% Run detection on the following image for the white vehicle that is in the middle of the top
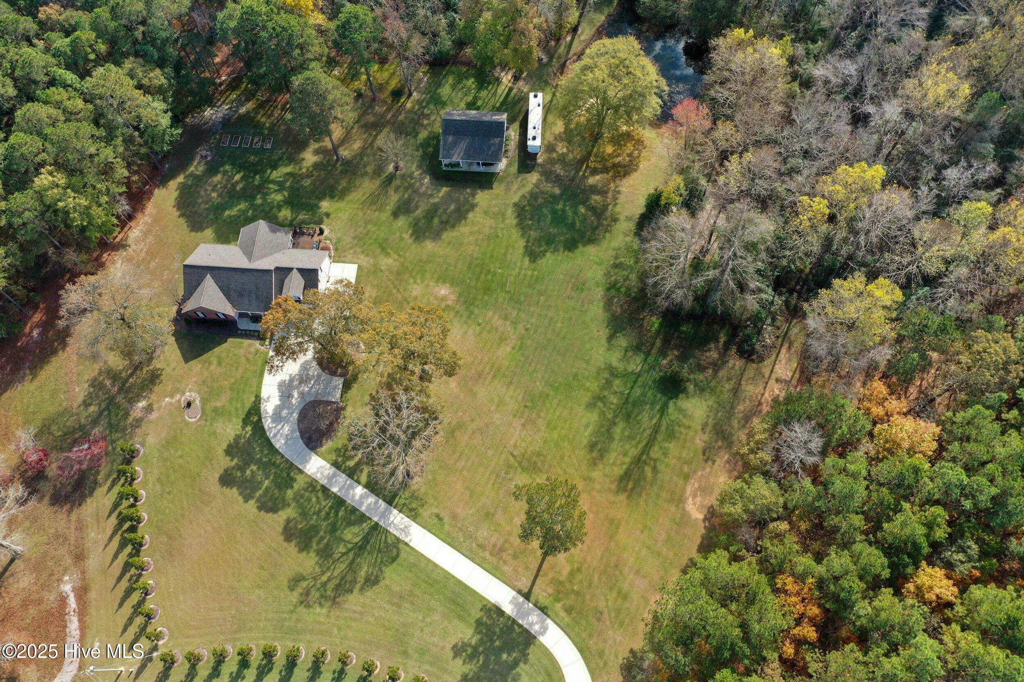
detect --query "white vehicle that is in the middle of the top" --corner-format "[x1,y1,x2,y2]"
[527,92,542,156]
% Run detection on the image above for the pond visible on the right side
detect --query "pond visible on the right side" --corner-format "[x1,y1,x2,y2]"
[586,5,724,125]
